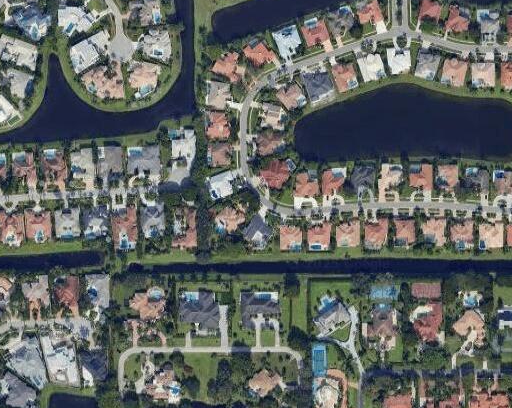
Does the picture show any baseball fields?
No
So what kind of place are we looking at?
residential area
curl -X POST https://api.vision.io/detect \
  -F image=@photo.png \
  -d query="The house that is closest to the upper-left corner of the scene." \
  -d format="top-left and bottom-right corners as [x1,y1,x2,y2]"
[8,0,51,37]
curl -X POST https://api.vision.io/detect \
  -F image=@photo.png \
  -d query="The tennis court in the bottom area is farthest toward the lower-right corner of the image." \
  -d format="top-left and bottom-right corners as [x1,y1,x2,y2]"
[412,283,442,298]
